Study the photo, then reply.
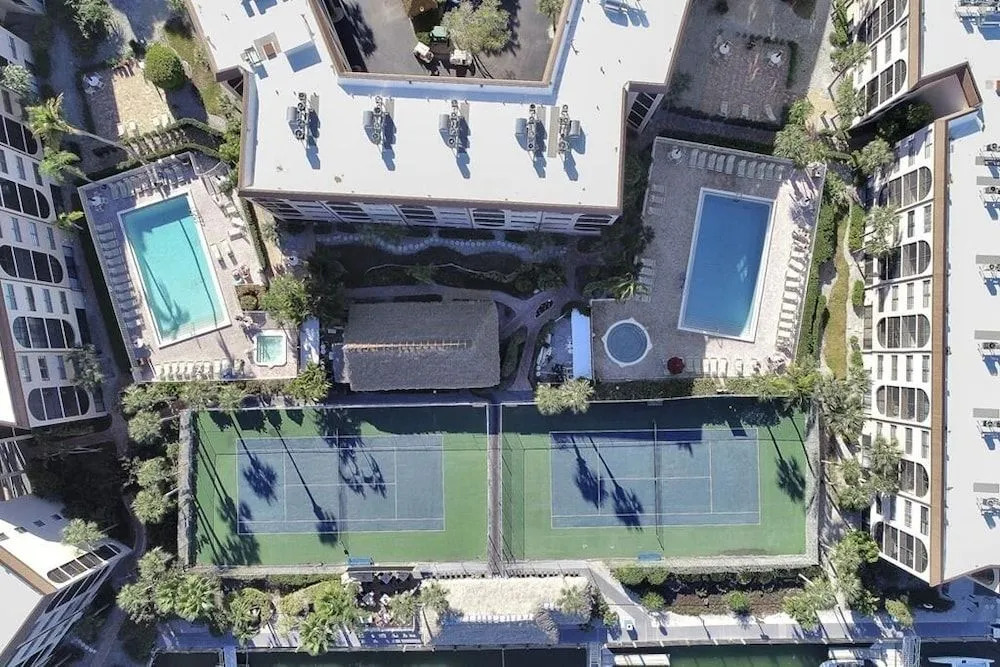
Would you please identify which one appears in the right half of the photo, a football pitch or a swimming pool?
swimming pool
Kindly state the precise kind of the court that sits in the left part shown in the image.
tennis court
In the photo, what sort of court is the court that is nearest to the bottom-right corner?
tennis court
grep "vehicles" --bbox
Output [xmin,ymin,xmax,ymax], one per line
[415,42,438,66]
[431,26,453,44]
[451,52,474,68]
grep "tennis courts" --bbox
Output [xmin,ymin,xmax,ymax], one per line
[502,397,814,562]
[191,404,488,567]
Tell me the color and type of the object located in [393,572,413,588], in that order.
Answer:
gray umbrella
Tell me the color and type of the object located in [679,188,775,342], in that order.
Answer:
blue swimming pool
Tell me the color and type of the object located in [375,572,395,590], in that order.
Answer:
gray umbrella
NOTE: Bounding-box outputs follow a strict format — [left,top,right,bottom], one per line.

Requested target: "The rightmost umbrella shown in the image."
[666,356,684,374]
